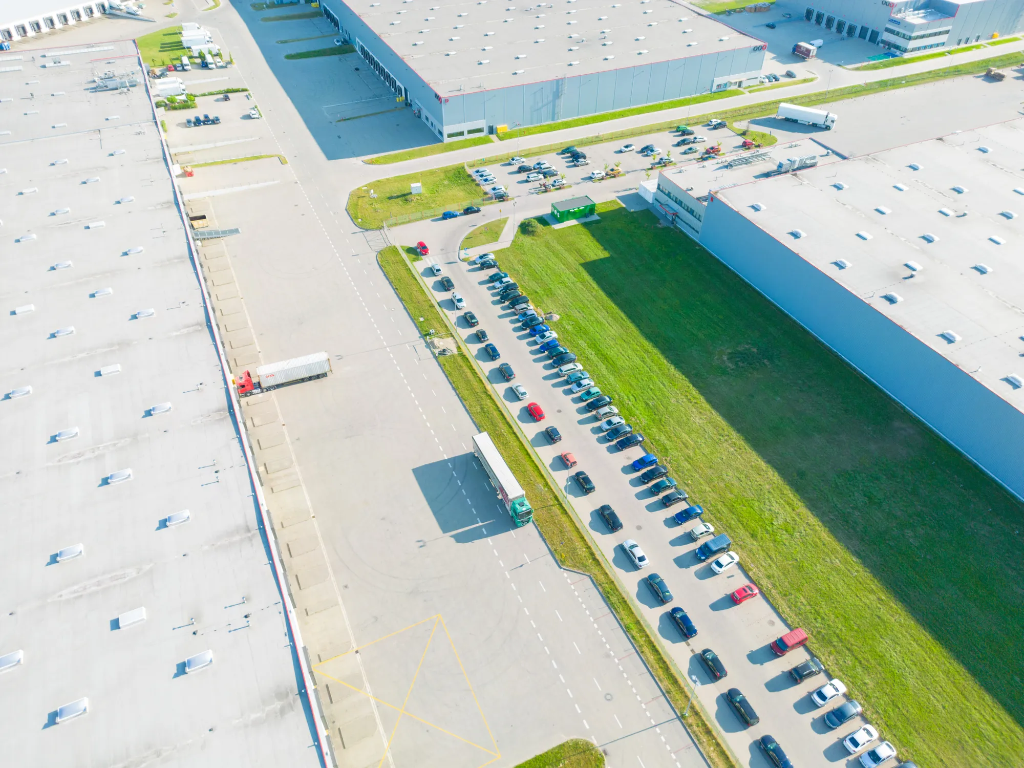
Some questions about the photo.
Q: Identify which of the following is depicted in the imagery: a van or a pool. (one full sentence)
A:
The one in the frame is a van.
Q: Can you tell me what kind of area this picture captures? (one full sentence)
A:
The area seen from above is an industrial area.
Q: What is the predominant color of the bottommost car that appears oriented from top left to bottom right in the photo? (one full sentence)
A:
In this view, the bottommost car that appears oriented from top left to bottom right is blue.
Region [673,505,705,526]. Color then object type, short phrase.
blue car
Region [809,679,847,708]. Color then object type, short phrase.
white car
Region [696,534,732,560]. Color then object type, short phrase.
blue vehicle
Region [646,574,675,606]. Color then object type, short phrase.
blue car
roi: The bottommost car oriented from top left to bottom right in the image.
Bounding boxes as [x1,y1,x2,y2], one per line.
[758,733,795,768]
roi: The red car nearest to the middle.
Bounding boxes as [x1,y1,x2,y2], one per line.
[527,404,546,422]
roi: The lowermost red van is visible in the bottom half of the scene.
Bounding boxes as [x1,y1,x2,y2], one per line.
[770,626,809,657]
